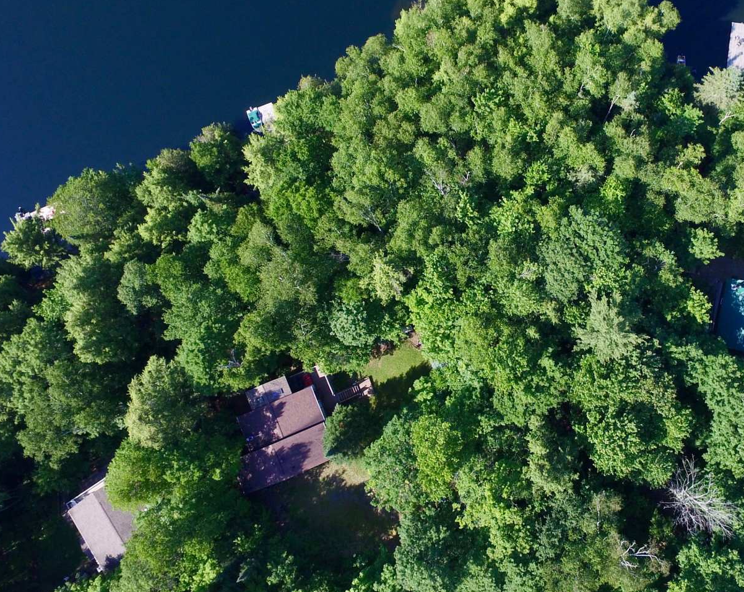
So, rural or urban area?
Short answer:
rural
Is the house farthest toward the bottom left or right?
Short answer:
left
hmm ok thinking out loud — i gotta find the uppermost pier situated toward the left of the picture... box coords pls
[258,102,282,128]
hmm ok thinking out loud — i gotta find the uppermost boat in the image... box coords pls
[246,106,262,131]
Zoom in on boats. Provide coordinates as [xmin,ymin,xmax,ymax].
[15,208,30,222]
[246,106,262,131]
